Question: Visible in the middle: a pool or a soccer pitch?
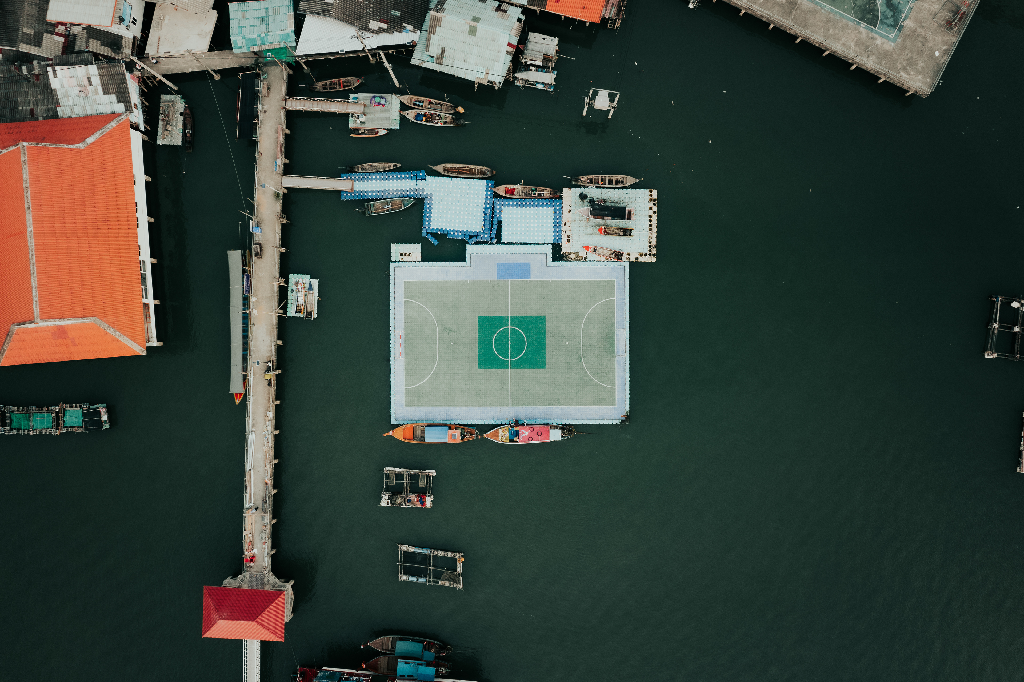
soccer pitch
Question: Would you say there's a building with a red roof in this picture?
Yes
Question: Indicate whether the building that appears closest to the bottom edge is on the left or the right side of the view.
left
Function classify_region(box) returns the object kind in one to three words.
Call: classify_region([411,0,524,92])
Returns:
house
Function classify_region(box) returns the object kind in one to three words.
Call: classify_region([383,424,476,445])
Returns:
boat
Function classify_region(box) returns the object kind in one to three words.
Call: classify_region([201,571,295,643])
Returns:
building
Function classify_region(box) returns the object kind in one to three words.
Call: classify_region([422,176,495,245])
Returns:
pier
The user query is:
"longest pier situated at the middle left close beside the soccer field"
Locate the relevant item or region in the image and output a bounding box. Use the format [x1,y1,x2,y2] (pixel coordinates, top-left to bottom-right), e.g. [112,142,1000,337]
[243,61,295,573]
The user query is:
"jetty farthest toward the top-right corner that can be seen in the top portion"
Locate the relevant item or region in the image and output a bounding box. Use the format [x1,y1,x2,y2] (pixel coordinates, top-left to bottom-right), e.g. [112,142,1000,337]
[562,187,658,262]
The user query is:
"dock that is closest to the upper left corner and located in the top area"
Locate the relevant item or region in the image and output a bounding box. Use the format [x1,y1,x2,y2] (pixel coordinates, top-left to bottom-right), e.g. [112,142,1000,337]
[155,94,184,146]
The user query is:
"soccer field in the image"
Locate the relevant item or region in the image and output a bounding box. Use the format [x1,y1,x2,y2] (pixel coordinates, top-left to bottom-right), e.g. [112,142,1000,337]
[390,244,630,425]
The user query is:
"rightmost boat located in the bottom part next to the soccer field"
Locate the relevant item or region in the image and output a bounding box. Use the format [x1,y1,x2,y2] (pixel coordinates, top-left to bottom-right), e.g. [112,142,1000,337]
[478,422,593,443]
